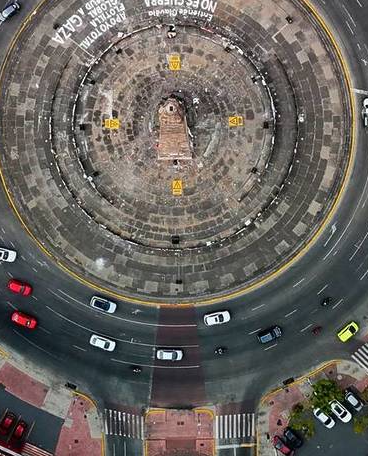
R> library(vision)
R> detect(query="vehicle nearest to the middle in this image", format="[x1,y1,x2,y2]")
[203,311,231,326]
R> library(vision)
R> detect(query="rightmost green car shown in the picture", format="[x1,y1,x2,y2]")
[337,323,360,343]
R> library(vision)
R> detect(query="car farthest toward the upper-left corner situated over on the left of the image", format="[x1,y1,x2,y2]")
[0,0,21,22]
